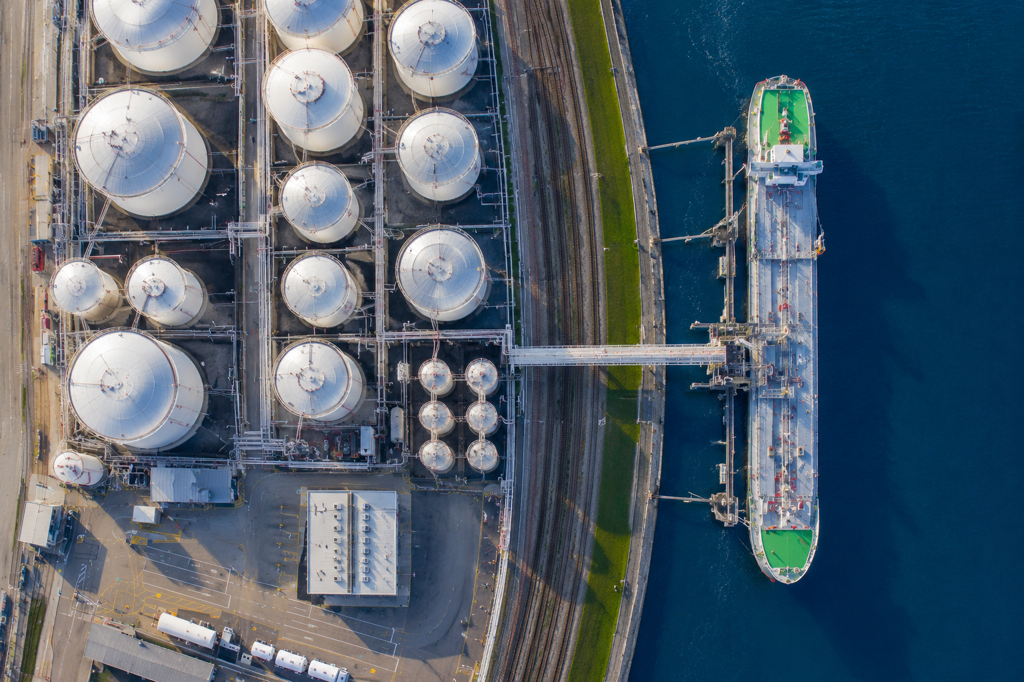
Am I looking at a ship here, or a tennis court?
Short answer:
ship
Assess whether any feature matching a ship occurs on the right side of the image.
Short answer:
Yes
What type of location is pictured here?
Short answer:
industrial area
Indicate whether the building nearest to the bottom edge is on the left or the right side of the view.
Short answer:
left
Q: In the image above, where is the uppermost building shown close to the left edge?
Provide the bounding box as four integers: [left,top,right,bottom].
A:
[28,155,57,201]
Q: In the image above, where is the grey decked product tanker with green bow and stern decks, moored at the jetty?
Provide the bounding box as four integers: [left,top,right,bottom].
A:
[739,73,825,584]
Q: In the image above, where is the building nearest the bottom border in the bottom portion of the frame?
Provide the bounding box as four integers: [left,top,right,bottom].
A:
[84,623,216,682]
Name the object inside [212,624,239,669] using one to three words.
truck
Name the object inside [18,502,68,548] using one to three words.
shed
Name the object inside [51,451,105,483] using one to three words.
storage tank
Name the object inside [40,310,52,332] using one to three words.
vehicle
